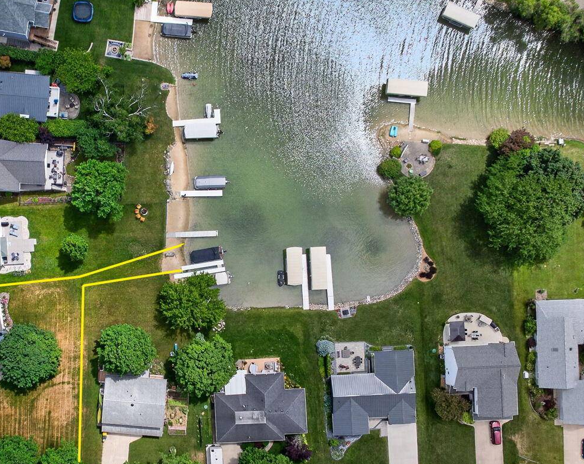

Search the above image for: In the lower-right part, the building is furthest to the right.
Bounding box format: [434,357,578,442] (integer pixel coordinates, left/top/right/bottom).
[532,298,584,426]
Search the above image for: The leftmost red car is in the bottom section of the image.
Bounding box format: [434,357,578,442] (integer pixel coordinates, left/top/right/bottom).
[490,420,503,445]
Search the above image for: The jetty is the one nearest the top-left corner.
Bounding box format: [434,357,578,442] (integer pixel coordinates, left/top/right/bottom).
[150,2,193,25]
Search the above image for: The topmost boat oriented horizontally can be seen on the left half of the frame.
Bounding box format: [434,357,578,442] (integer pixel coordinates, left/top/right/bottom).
[161,24,194,38]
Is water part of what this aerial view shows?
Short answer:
Yes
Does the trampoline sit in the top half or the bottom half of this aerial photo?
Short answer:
top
